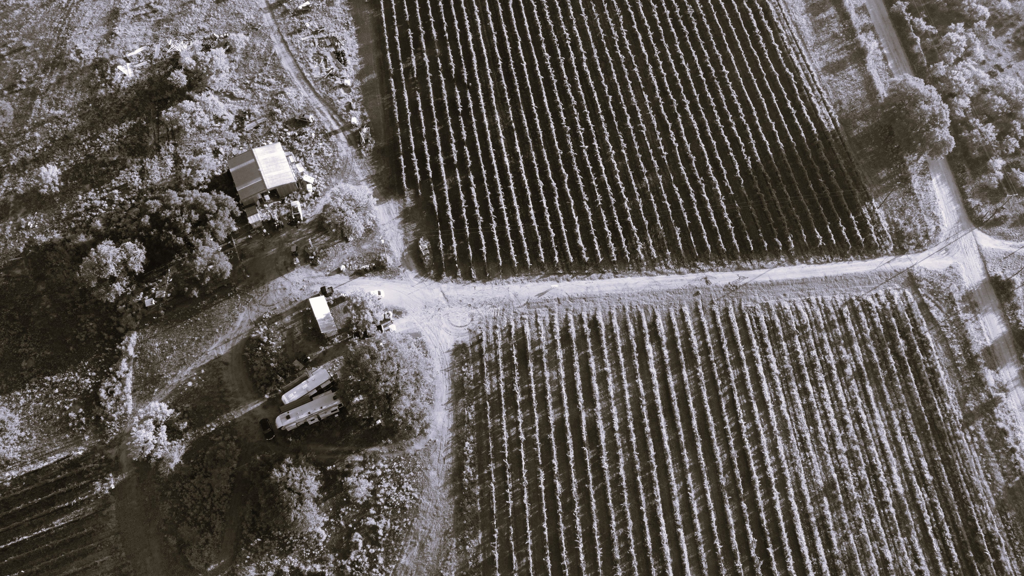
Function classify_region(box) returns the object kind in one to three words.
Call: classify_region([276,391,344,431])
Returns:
trailer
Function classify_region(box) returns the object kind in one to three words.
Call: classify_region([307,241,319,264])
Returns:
vehicle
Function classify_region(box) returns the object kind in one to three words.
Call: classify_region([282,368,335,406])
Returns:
trailer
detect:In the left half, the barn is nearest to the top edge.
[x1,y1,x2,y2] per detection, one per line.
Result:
[227,142,298,207]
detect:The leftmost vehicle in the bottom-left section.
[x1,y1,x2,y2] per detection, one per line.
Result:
[259,417,276,442]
